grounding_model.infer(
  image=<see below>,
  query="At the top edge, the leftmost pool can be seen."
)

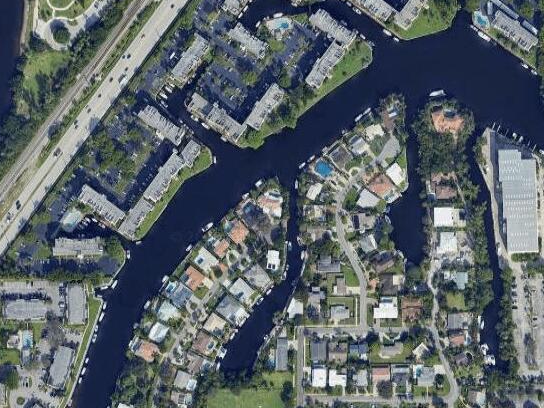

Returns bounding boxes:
[269,15,296,33]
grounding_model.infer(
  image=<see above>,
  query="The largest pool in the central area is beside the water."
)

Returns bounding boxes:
[304,154,340,184]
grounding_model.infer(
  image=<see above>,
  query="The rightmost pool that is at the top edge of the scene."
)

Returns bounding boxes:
[474,9,489,27]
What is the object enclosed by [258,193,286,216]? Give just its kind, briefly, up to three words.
house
